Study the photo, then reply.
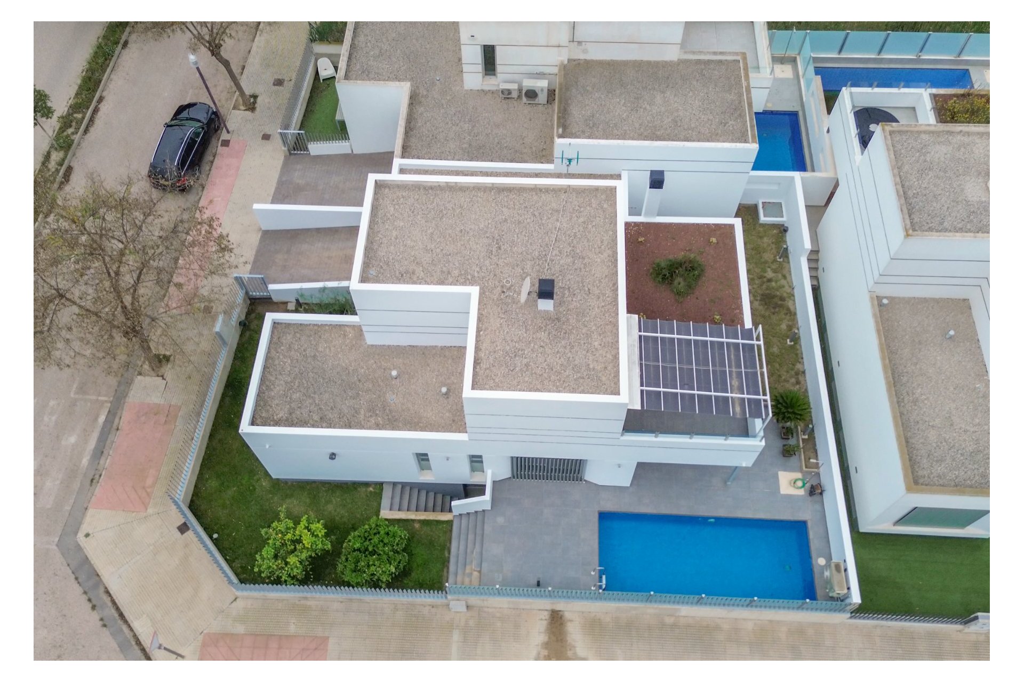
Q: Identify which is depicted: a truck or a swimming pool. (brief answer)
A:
swimming pool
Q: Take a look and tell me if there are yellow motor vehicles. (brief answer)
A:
No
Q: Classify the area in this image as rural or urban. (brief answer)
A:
urban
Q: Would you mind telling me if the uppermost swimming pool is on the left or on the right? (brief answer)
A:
right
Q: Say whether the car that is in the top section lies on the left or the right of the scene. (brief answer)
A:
left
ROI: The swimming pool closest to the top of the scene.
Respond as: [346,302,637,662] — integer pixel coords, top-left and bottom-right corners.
[817,66,975,107]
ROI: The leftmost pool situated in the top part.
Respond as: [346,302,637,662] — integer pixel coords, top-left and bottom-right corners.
[751,111,807,172]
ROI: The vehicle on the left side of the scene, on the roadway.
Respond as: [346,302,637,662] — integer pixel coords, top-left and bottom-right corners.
[149,100,223,193]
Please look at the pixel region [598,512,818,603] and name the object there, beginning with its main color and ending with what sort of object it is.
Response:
blue swimming pool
